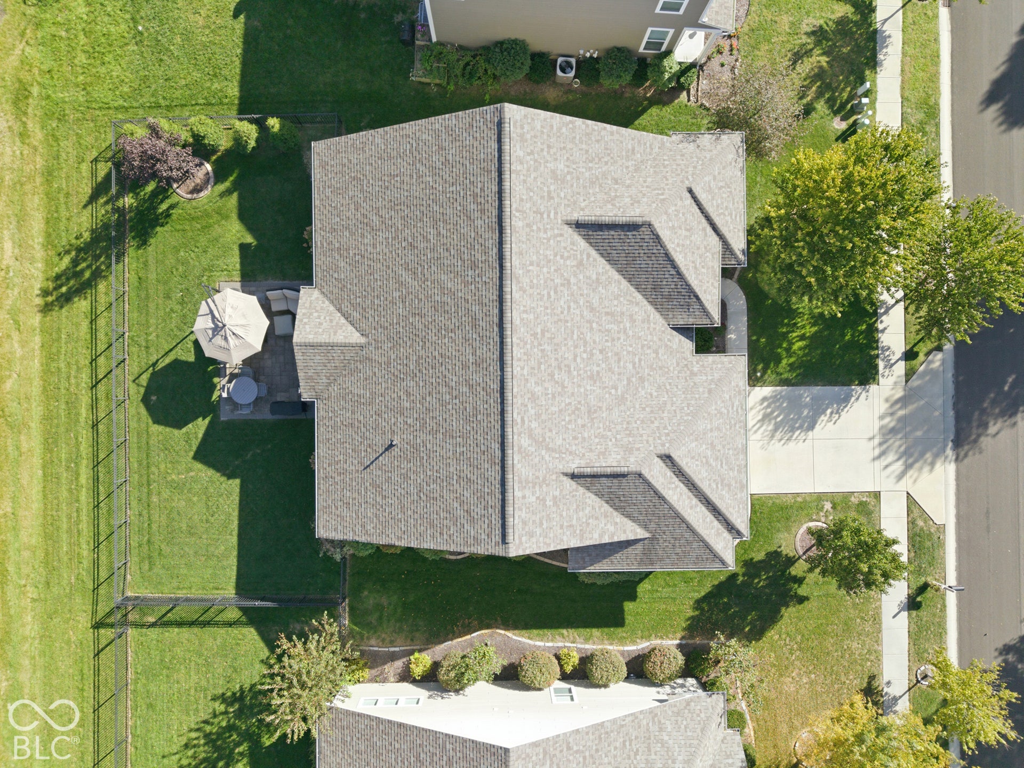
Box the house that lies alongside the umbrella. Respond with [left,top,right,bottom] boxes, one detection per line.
[294,105,751,573]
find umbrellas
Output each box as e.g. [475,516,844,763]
[194,283,269,364]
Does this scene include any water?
No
